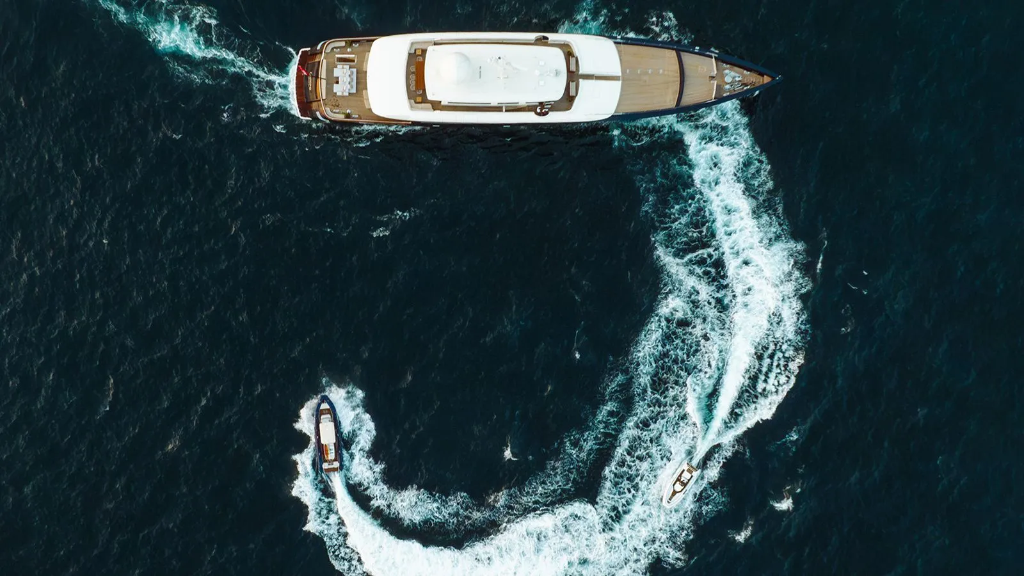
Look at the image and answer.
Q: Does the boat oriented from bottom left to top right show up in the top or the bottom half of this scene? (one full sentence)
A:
Seen from above, the boat oriented from bottom left to top right lies in the bottom half of the view.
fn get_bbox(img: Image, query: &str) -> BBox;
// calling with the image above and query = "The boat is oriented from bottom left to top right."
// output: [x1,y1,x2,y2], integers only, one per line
[663,460,701,508]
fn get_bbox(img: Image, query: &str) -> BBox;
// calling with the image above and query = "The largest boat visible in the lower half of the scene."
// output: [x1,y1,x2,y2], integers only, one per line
[315,394,344,474]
